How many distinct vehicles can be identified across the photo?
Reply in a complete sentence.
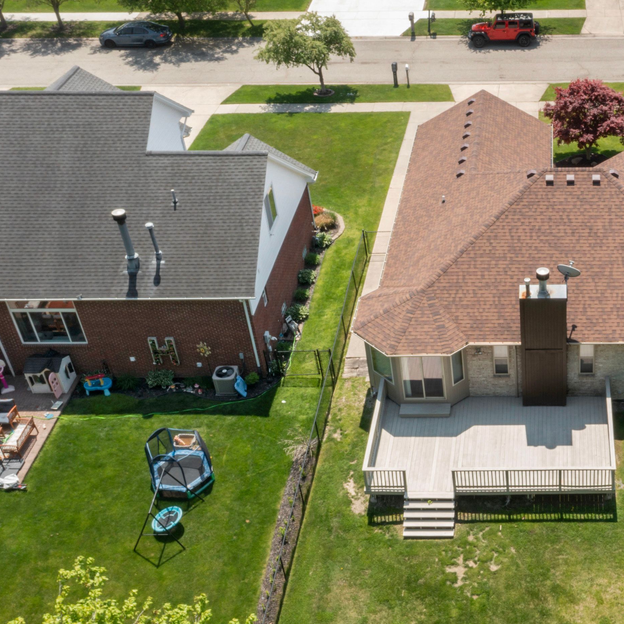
The number of vehicles here is 2.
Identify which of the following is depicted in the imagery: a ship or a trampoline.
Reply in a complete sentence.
Of the two, only a trampoline appears.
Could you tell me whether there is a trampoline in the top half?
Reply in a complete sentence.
No, I see no trampoline in the top half.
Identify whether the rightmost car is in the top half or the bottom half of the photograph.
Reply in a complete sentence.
It is in the top half that the rightmost car appears.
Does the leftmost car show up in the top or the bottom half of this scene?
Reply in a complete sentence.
The top half of the photo is where the leftmost car is.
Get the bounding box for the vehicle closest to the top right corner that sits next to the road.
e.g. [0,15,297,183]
[467,11,540,47]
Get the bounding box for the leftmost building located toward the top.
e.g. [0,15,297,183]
[0,64,317,381]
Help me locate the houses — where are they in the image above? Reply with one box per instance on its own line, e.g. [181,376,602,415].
[347,87,624,414]
[0,64,317,381]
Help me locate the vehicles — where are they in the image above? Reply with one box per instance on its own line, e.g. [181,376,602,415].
[467,11,540,47]
[102,15,177,46]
